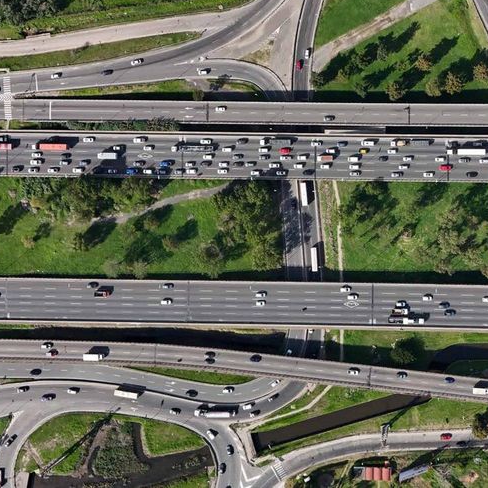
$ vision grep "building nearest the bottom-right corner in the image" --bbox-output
[365,468,392,486]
